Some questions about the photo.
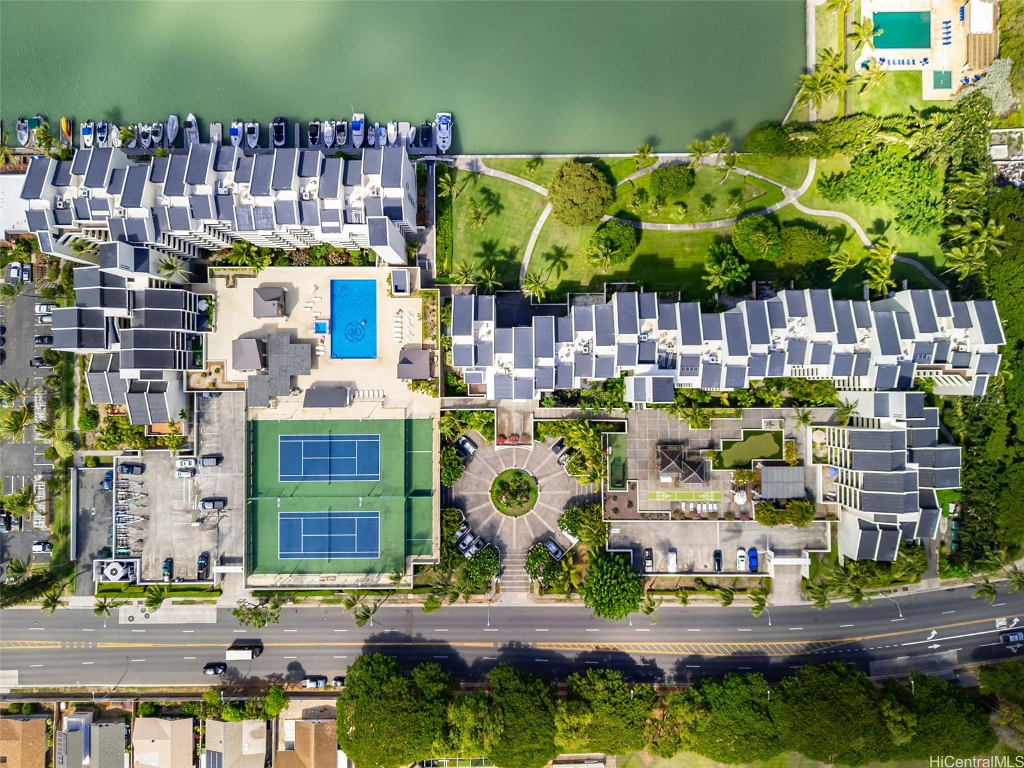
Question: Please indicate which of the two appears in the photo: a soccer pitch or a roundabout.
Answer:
roundabout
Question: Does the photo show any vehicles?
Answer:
Yes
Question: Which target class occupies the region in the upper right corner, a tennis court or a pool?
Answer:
pool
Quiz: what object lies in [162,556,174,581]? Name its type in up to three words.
vehicle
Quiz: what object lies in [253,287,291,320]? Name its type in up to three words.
building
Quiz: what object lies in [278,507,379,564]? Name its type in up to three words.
tennis court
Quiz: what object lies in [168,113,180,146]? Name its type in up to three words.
boat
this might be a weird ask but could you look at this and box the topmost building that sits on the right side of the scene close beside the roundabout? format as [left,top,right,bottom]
[450,288,1008,410]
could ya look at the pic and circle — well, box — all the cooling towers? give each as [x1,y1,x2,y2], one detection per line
[101,556,132,585]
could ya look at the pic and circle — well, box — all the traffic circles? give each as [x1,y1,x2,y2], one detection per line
[451,432,580,559]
